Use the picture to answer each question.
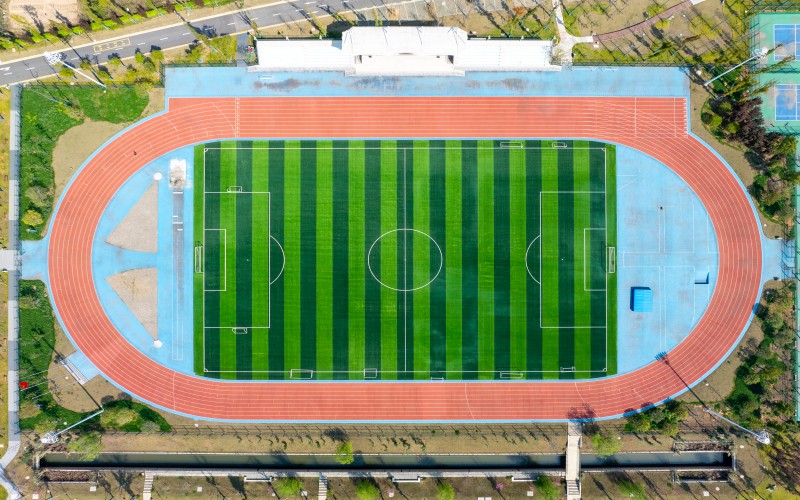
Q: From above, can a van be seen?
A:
No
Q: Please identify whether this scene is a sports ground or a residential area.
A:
sports ground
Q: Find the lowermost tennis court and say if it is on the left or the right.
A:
right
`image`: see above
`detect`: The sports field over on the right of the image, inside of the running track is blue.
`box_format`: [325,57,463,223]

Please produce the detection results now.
[400,139,717,380]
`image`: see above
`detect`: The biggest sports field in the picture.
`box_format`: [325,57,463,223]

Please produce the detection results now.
[194,141,617,379]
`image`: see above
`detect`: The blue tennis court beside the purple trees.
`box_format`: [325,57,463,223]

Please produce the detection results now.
[775,84,800,121]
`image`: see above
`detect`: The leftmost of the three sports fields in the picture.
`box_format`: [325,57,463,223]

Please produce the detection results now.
[93,139,400,380]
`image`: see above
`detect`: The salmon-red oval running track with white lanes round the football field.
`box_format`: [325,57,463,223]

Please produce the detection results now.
[44,97,766,422]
